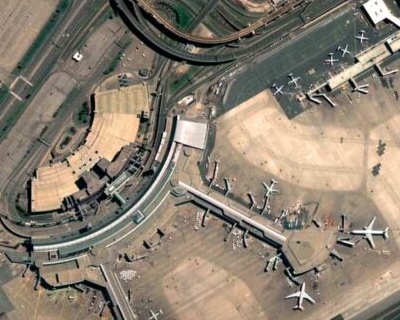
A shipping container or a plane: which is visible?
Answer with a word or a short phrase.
plane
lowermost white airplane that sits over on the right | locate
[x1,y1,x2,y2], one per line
[286,282,314,311]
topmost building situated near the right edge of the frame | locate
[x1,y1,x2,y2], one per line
[366,0,400,28]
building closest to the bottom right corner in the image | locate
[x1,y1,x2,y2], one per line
[282,228,329,275]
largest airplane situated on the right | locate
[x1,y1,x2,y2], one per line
[351,215,388,248]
